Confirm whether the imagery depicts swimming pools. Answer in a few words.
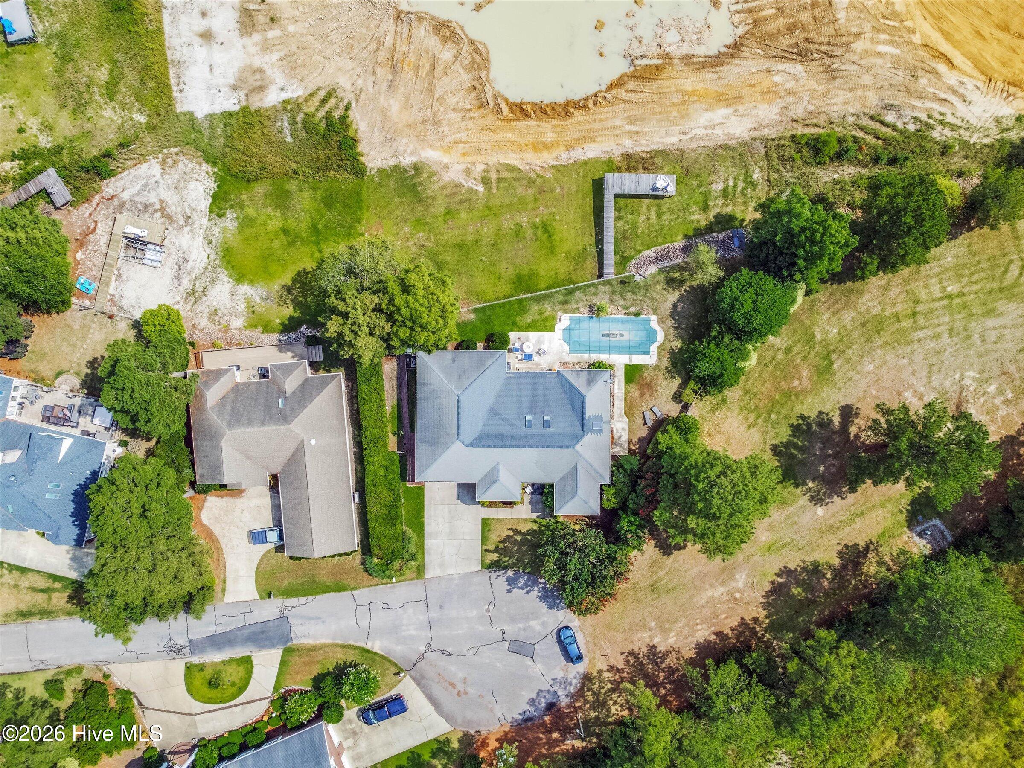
Yes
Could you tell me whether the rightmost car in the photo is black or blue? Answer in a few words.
blue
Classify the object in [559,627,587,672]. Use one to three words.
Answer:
car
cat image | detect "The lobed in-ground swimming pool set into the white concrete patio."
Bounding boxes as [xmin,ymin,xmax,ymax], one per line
[561,315,659,356]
